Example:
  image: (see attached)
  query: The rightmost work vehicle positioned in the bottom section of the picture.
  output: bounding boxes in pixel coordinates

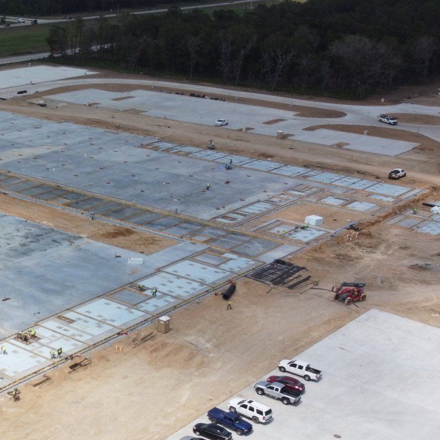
[332,281,368,305]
